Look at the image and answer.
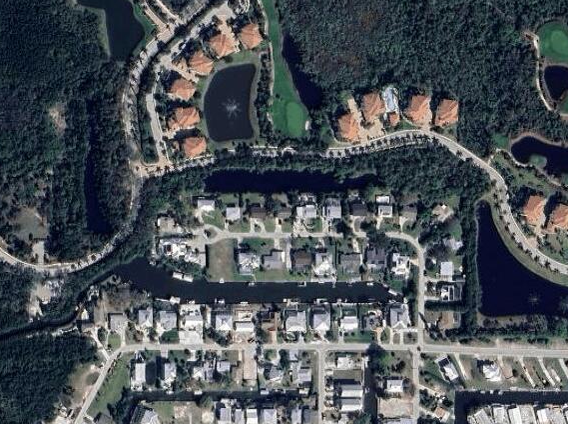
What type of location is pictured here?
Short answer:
residential area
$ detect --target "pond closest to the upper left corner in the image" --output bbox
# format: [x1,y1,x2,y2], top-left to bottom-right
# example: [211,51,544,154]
[78,0,143,60]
